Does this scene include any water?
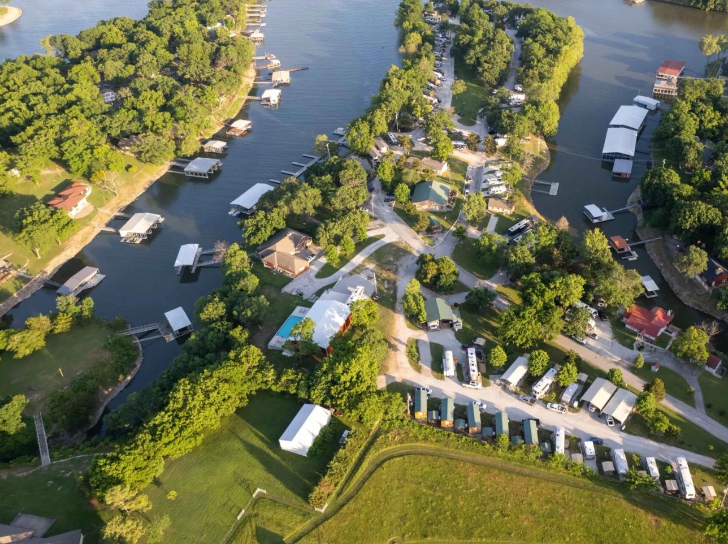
Yes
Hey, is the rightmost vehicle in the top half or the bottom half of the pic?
bottom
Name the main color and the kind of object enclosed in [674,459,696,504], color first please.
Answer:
white vehicle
